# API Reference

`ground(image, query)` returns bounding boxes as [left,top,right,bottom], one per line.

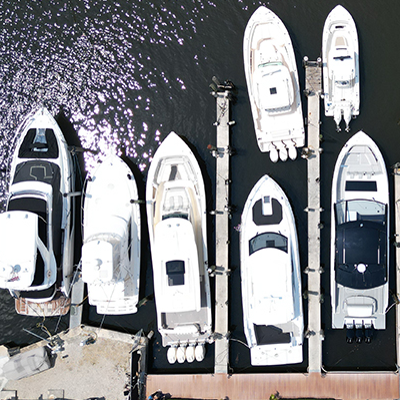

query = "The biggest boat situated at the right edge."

[331,130,390,344]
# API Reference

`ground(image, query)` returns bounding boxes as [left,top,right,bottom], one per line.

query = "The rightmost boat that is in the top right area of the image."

[322,5,359,134]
